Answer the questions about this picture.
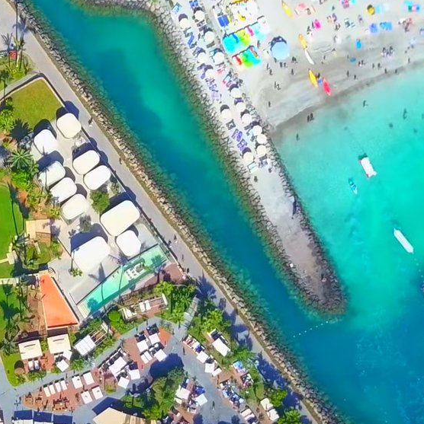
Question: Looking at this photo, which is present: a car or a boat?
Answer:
boat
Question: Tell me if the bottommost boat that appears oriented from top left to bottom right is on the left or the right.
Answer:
right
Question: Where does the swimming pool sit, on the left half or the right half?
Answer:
left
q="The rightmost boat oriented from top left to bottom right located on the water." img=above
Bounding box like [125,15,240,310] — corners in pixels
[393,227,416,254]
